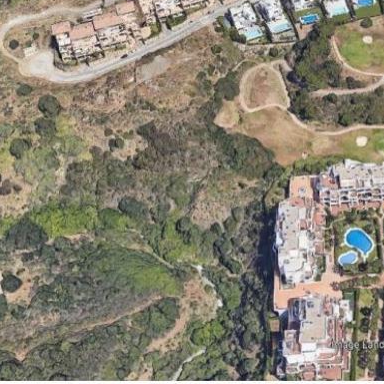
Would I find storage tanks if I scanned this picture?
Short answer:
No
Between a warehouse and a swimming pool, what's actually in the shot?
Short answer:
swimming pool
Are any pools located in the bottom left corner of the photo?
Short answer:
No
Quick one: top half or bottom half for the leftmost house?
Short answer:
top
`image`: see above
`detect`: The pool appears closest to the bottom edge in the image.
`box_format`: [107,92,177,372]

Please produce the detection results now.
[338,249,359,266]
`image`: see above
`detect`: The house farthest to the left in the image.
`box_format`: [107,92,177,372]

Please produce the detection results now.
[51,21,79,62]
